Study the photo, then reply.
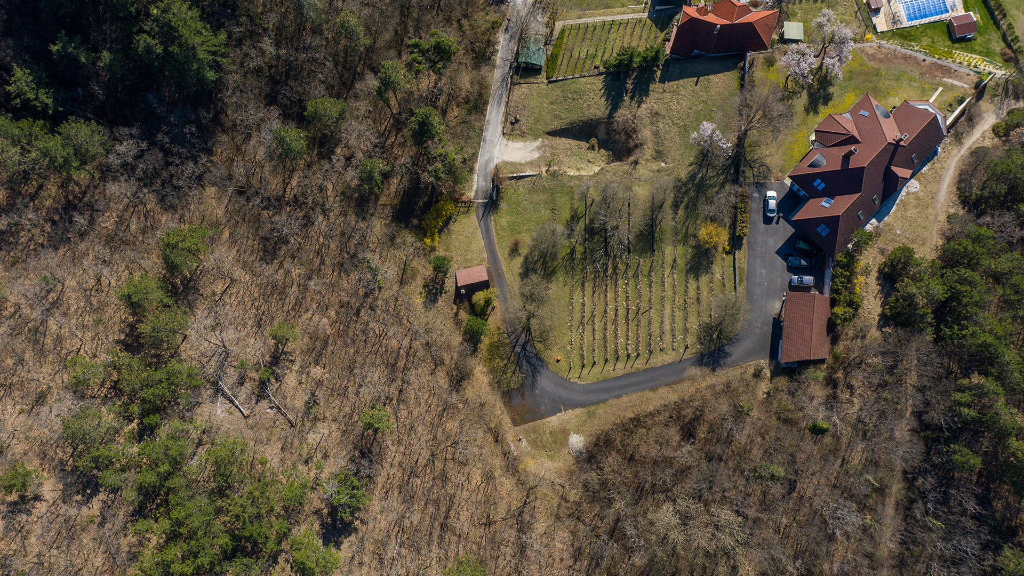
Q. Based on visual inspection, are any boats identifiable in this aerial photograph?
No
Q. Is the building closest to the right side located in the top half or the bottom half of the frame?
top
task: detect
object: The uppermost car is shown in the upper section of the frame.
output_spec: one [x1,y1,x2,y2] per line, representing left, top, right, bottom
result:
[765,193,778,217]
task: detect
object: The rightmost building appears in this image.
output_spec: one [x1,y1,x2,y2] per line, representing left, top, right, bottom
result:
[946,12,977,40]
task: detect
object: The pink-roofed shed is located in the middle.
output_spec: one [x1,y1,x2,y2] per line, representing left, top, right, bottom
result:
[456,265,490,295]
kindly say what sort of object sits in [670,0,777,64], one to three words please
house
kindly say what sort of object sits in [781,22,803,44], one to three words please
shed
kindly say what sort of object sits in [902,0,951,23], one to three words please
swimming pool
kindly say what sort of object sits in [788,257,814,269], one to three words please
vehicle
